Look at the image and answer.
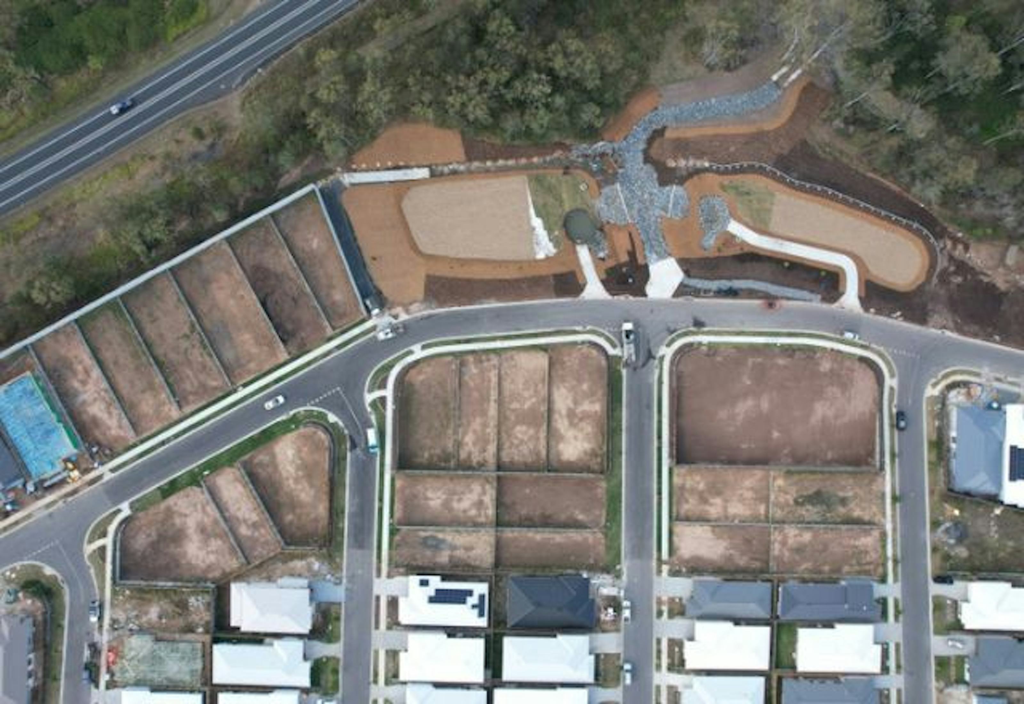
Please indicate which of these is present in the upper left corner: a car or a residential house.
car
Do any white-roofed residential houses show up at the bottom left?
Yes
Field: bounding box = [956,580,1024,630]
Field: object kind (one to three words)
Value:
house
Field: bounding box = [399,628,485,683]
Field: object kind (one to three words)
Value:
house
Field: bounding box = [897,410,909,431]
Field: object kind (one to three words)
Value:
vehicle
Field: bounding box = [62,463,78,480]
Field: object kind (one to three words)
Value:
work vehicle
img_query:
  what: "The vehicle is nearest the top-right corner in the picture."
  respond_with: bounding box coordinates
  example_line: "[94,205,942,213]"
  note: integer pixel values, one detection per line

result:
[840,328,864,343]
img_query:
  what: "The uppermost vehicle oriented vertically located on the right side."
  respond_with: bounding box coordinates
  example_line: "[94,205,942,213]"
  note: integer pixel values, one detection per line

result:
[623,322,636,363]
